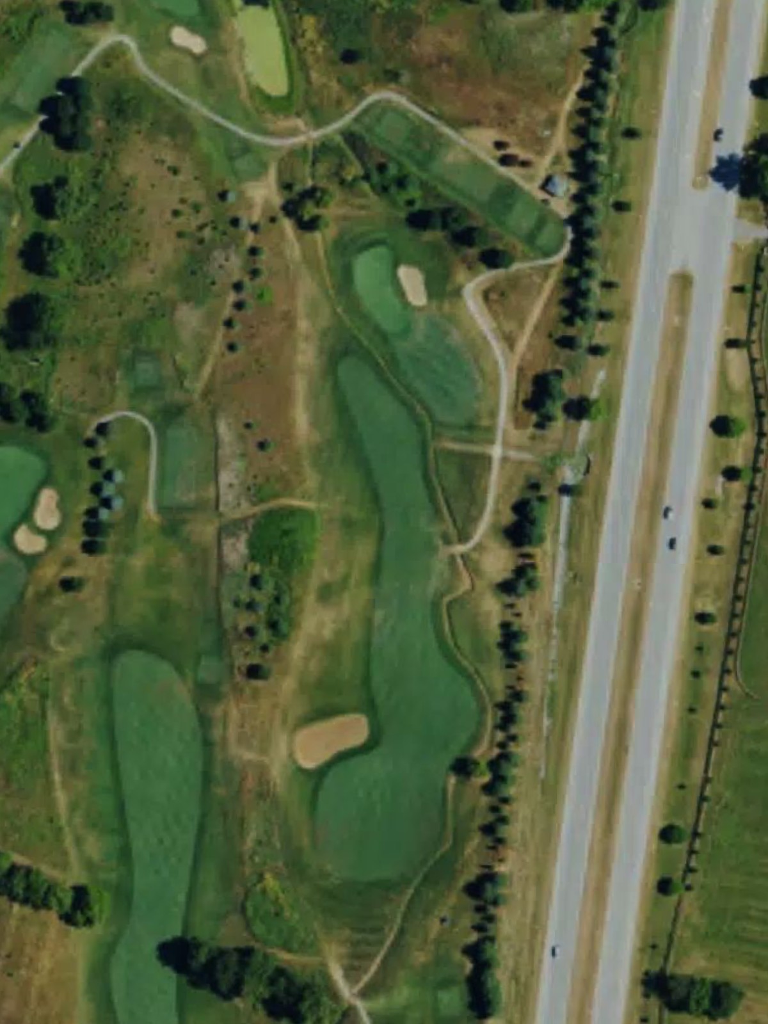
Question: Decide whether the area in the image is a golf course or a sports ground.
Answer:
golf course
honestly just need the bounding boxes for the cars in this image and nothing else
[670,537,676,550]
[554,945,560,958]
[667,507,673,520]
[718,128,724,141]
